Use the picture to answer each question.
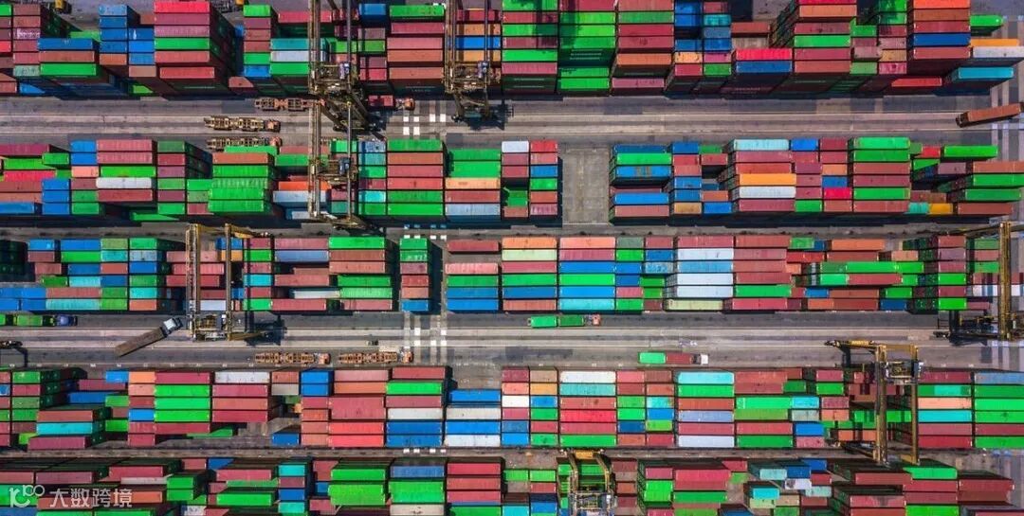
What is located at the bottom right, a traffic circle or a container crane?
container crane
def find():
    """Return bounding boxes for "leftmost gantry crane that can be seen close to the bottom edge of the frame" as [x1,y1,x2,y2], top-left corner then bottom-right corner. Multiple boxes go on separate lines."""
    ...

[561,447,619,516]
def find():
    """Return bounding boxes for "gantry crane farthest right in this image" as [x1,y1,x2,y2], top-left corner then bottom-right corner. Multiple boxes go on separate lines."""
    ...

[930,217,1024,345]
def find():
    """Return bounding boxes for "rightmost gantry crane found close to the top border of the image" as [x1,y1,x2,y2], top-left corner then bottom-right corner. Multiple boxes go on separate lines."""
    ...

[443,0,497,124]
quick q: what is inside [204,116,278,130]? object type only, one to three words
vehicle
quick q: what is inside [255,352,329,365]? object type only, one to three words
vehicle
